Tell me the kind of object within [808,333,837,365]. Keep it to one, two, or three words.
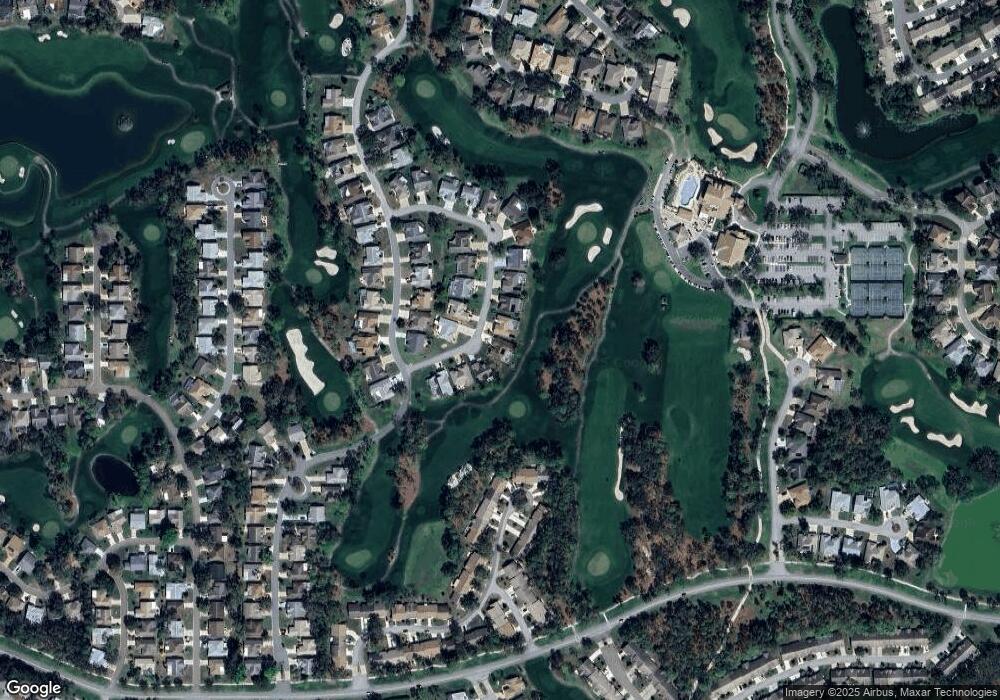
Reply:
house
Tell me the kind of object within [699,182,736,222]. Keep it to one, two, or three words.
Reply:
building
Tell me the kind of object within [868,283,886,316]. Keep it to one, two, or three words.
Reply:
tennis court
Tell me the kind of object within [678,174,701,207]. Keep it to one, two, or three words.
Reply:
swimming pool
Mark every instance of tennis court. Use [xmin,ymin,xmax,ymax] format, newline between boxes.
[868,248,886,280]
[868,283,886,316]
[852,283,868,316]
[852,248,868,280]
[886,283,903,316]
[886,248,903,280]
